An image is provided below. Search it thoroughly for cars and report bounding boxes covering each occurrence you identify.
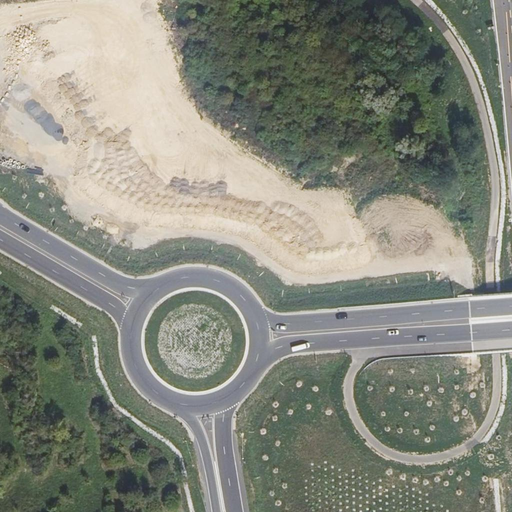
[336,313,348,319]
[418,336,428,341]
[388,330,399,336]
[276,324,286,330]
[19,223,30,232]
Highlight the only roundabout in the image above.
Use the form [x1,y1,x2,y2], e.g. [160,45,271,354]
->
[110,264,280,424]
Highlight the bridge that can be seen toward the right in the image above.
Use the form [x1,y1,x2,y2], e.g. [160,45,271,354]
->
[458,290,512,355]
